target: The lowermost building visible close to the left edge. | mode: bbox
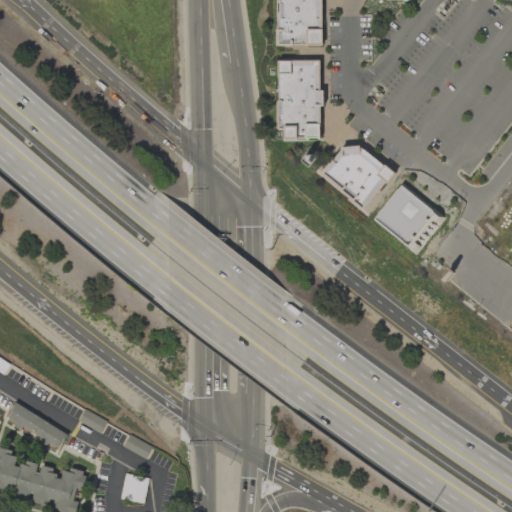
[0,446,86,512]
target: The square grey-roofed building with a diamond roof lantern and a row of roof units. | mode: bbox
[374,186,446,254]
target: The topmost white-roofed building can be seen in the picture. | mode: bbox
[276,0,323,47]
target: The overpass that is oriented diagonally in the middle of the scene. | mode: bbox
[154,185,304,418]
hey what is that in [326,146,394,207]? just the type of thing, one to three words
building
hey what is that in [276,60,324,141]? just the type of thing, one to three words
building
